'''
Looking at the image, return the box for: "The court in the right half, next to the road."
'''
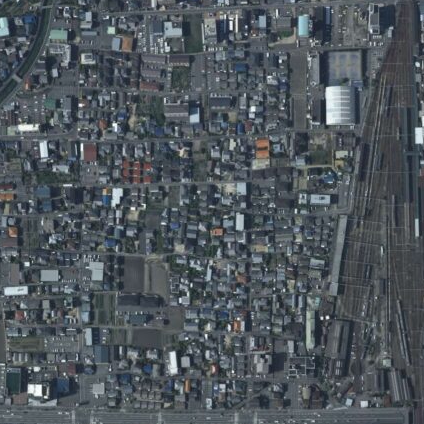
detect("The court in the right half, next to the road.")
[327,50,362,83]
